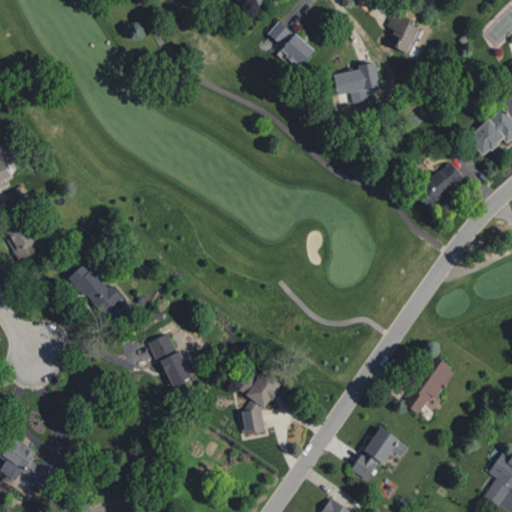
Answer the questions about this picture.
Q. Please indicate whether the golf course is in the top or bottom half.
top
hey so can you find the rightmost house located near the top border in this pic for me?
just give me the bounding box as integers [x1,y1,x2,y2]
[386,18,424,56]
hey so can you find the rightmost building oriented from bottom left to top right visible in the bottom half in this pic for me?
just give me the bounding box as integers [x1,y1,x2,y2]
[409,361,454,414]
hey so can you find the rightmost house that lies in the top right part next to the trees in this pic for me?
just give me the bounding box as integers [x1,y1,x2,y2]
[474,110,512,153]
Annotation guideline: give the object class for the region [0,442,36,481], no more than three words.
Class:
house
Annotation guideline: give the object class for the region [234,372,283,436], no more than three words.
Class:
house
